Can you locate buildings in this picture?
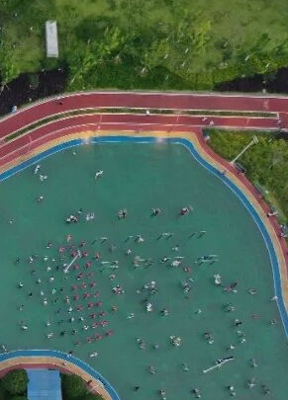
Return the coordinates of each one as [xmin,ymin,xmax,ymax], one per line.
[42,22,58,66]
[23,370,62,400]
